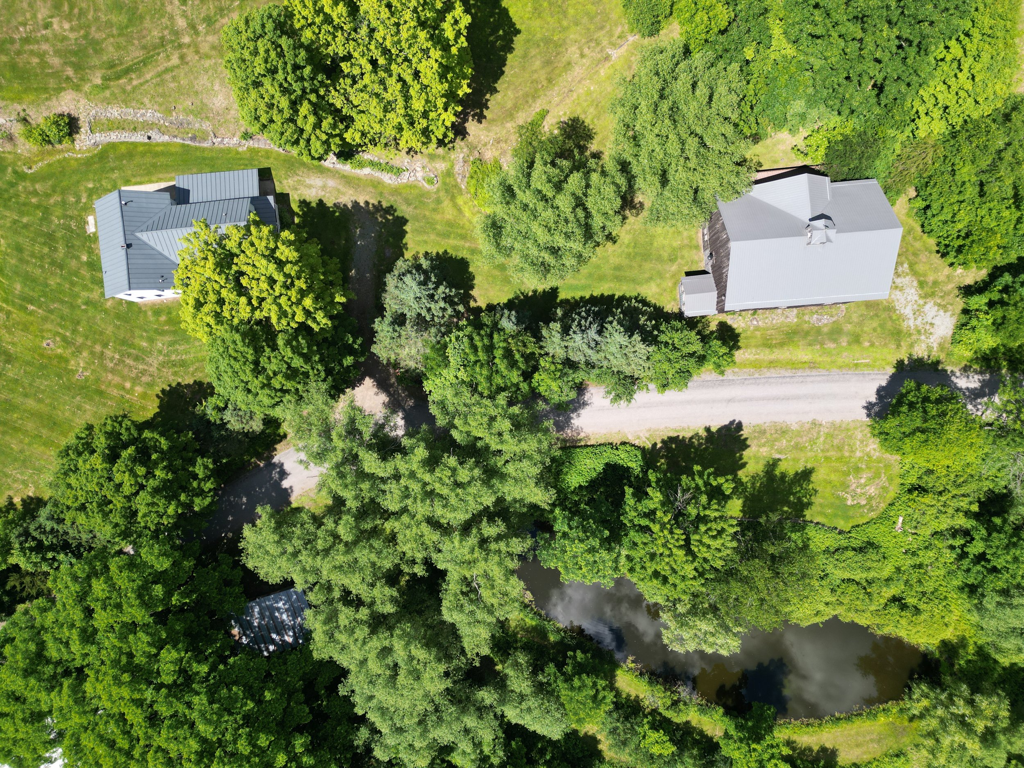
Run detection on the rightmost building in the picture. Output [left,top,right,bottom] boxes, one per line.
[677,165,904,317]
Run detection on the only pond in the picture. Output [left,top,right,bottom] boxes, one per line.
[511,510,934,724]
